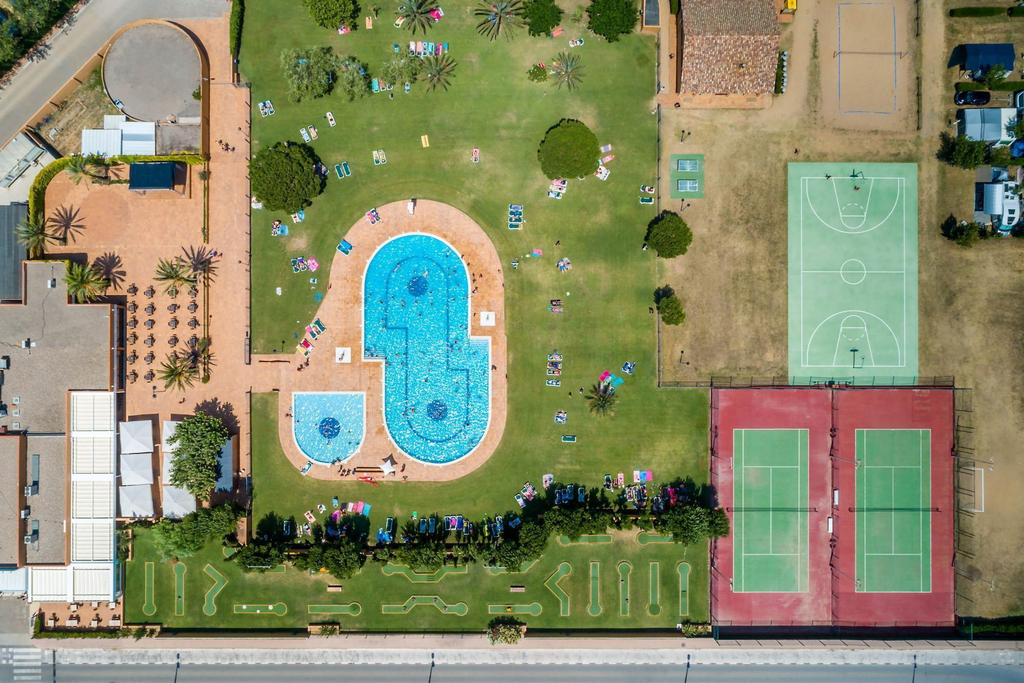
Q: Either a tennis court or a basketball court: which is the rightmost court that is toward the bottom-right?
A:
tennis court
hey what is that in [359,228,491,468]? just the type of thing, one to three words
swimming pool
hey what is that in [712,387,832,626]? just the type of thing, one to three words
tennis court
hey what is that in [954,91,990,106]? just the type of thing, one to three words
car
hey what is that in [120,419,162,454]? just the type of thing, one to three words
tent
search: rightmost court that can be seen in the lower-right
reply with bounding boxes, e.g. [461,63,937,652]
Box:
[832,387,955,626]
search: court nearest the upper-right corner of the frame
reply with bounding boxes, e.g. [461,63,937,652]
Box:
[838,3,897,113]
